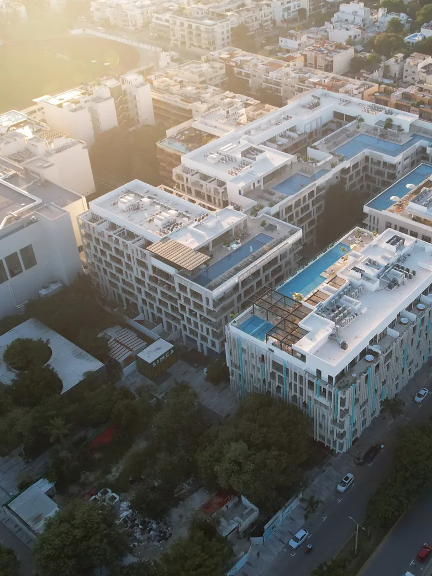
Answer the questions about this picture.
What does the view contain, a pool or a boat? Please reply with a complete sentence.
Of the two, only a pool appears.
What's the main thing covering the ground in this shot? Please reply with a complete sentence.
Most of the picture is covered by buildings.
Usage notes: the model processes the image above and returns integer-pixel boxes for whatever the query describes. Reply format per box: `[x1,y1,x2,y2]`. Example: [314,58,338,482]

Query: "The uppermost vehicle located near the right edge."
[412,387,431,404]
